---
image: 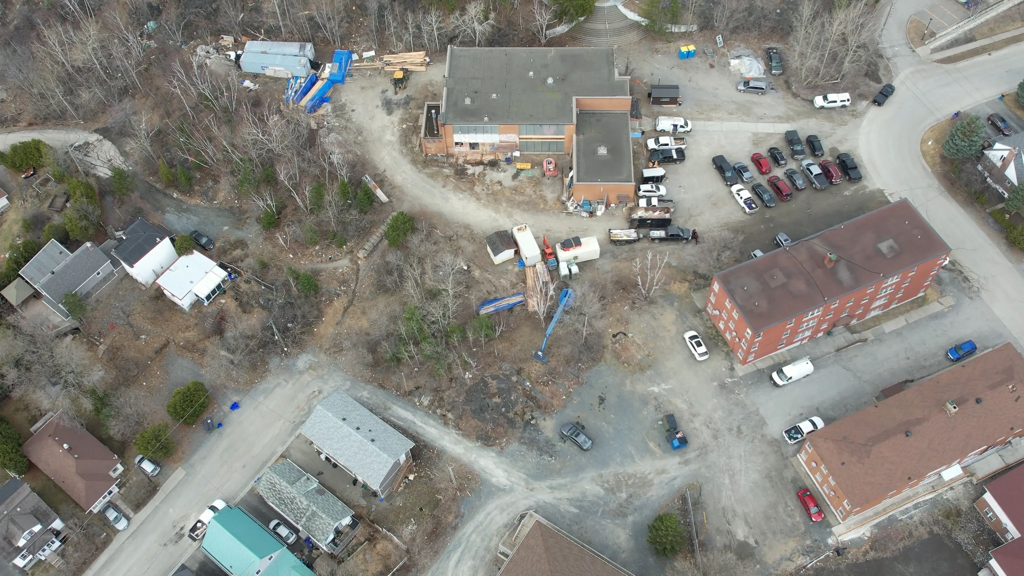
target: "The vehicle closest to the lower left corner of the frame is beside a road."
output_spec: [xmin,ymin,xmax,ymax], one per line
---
[98,500,133,536]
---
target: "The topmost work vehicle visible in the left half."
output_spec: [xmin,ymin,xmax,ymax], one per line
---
[390,67,409,91]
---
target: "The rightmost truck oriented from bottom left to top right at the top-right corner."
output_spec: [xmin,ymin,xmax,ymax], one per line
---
[870,81,897,110]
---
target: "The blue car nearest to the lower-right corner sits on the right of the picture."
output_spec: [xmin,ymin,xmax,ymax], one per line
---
[941,338,982,364]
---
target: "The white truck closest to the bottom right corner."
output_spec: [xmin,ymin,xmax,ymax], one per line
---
[778,413,830,445]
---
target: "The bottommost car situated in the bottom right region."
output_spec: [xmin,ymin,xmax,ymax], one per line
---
[794,484,827,528]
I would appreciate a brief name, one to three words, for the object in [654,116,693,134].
vehicle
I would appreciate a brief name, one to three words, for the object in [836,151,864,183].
truck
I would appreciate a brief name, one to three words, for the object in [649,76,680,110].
shed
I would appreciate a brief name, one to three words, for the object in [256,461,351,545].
house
